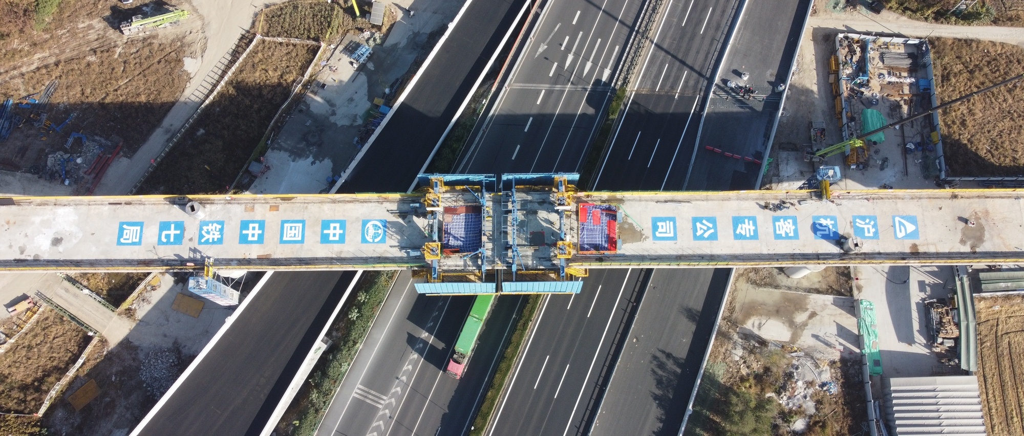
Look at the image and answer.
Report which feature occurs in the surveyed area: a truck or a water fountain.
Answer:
truck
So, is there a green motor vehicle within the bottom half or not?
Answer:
Yes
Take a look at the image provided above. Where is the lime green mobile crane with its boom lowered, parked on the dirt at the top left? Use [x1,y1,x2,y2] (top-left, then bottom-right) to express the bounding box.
[118,6,192,43]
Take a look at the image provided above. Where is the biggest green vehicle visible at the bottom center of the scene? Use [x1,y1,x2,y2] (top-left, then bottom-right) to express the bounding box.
[449,296,495,383]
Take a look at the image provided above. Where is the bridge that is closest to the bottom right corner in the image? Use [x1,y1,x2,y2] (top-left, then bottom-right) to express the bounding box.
[507,193,1024,282]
